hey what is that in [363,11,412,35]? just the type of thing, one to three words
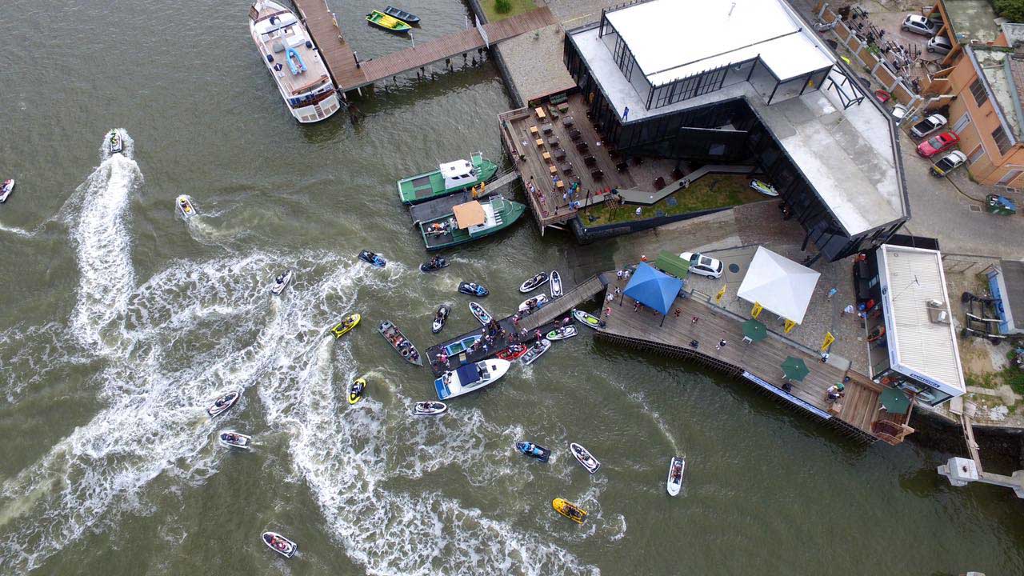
boat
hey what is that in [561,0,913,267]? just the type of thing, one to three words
building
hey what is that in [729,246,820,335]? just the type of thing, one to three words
gazebo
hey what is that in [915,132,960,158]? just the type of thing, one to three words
car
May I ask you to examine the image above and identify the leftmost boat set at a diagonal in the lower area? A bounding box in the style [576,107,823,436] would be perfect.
[206,391,241,421]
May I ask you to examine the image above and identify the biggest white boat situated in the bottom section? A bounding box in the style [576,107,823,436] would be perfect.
[434,356,511,403]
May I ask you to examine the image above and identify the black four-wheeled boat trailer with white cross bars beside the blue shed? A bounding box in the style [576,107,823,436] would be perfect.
[964,287,1013,342]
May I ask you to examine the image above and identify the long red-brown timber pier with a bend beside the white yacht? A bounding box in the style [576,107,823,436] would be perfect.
[292,0,558,98]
